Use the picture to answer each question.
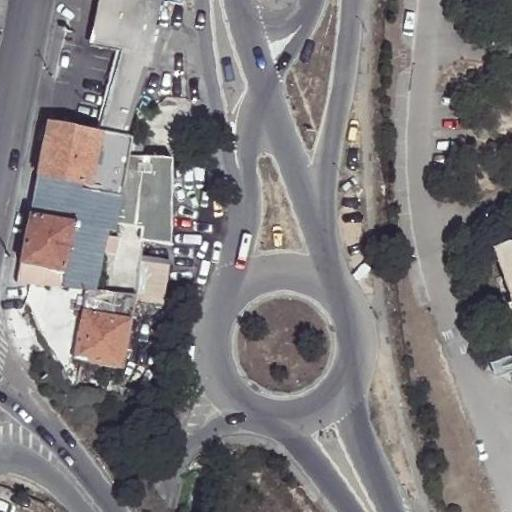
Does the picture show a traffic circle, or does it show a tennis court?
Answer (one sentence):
Visible in the photo is a traffic circle.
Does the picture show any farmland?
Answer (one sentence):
No, there is no farmland in the image.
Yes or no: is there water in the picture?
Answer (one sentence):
No, no water is visible.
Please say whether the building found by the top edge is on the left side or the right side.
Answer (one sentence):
The building found by the top edge appears in the left half of the scene.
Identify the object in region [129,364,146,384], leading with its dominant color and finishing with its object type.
white car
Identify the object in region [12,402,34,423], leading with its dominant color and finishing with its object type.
white car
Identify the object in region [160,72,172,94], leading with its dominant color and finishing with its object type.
white vehicle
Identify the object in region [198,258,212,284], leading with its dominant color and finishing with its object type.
white vehicle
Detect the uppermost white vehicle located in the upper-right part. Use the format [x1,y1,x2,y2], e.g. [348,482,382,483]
[402,10,414,36]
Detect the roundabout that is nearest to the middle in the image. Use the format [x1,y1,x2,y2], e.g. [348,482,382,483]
[232,290,338,400]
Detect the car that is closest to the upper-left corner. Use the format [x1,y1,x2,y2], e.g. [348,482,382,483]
[56,2,76,21]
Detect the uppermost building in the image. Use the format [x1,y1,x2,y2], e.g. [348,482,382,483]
[90,0,154,130]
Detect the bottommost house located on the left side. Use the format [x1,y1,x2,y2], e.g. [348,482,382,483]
[73,308,136,370]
